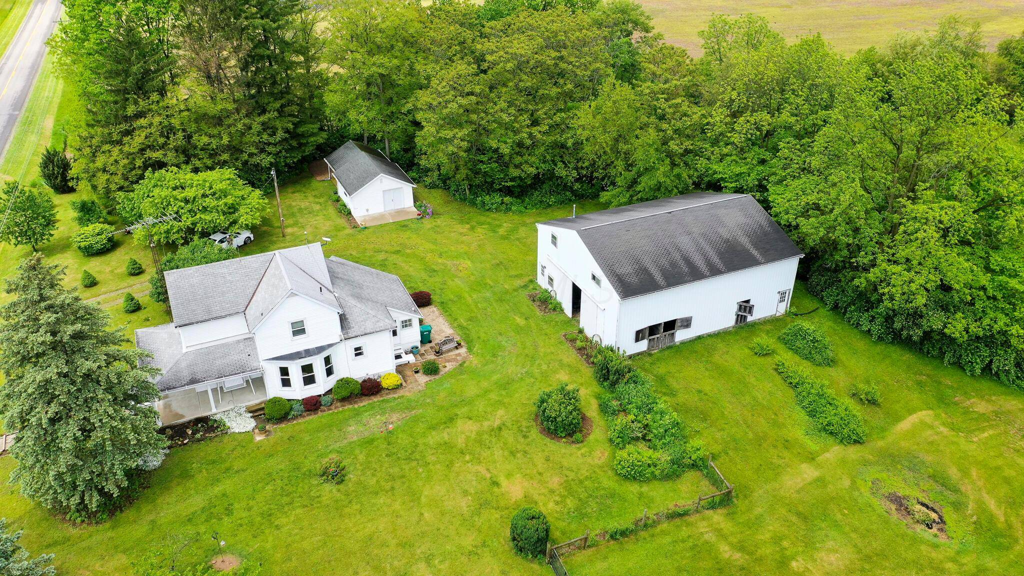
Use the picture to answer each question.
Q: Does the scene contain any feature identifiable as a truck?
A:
No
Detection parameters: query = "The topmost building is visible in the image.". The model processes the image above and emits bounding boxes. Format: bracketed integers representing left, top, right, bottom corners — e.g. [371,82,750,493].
[323,140,417,216]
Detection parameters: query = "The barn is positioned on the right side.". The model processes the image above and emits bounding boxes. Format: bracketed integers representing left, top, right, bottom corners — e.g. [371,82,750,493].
[535,190,808,356]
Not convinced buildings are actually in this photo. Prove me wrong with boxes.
[134,242,425,430]
[535,190,808,356]
[323,140,417,216]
